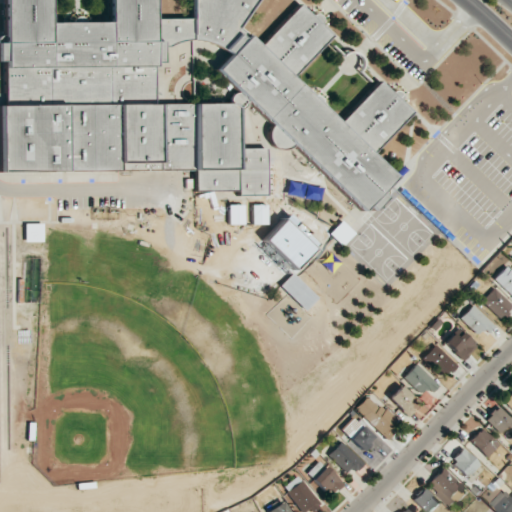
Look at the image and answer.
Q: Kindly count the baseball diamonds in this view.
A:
1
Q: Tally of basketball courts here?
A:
2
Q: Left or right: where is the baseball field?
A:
left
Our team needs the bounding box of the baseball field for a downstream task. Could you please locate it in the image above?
[33,223,293,485]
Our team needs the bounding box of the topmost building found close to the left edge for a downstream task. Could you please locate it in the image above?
[0,0,196,102]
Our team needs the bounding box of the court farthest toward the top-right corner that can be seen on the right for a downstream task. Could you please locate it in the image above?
[375,198,434,255]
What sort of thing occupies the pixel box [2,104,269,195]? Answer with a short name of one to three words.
building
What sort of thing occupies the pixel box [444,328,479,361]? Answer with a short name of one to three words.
house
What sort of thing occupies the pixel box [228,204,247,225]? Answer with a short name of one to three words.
building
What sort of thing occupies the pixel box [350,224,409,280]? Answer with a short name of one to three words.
basketball court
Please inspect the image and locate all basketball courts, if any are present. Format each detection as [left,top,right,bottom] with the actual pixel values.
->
[375,198,434,255]
[350,224,409,280]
